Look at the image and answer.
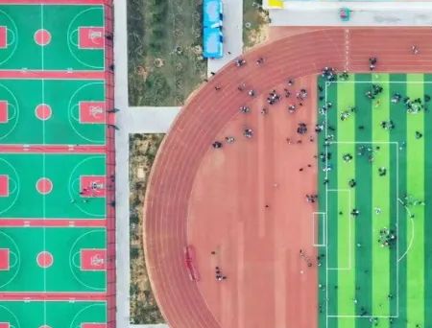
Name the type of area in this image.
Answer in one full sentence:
The area seen from above is a sports ground.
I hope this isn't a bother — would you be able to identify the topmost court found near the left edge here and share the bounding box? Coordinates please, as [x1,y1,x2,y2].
[0,4,104,71]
